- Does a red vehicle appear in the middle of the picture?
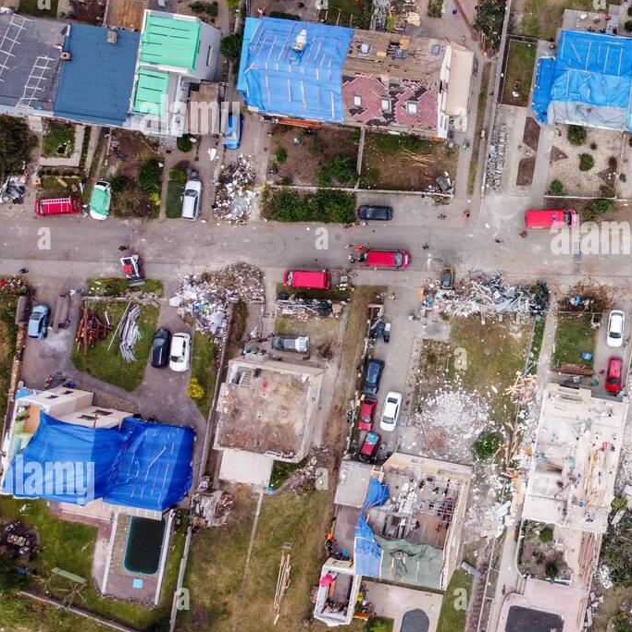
Yes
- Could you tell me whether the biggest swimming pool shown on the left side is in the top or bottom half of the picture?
bottom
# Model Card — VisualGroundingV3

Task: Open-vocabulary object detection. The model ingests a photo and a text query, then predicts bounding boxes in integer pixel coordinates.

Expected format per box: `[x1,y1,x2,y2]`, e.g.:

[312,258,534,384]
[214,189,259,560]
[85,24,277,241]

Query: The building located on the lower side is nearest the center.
[215,352,335,459]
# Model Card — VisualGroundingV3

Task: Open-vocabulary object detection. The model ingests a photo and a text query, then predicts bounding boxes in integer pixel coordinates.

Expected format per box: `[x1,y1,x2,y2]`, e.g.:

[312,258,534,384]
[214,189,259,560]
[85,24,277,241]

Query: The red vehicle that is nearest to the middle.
[281,268,329,291]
